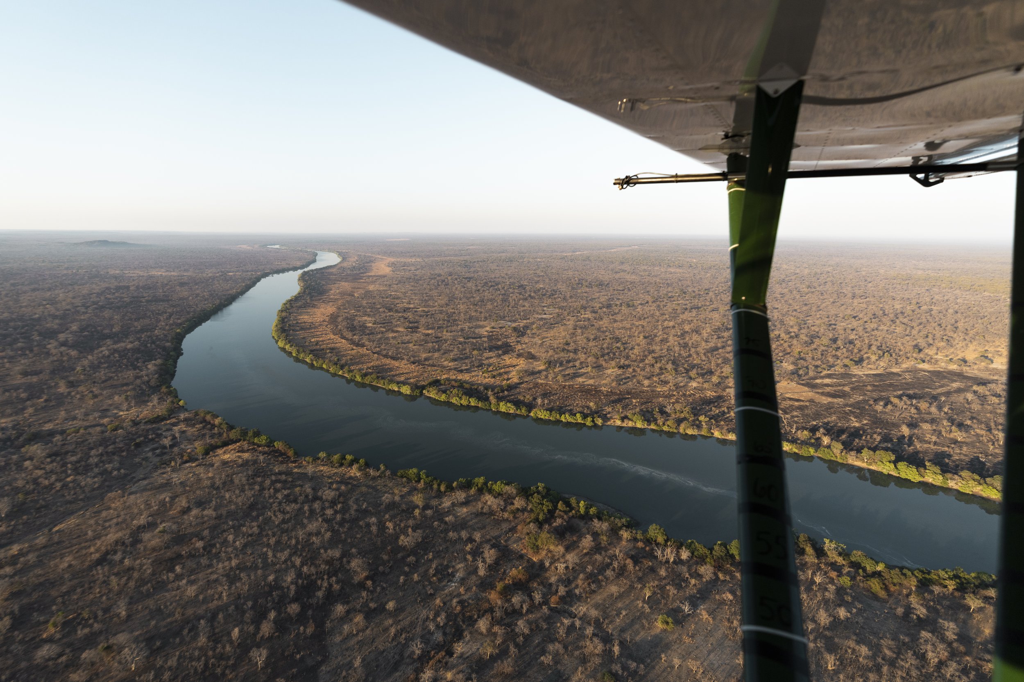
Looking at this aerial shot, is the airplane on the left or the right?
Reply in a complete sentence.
It is on the right.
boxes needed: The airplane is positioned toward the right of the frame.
[322,0,1024,682]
